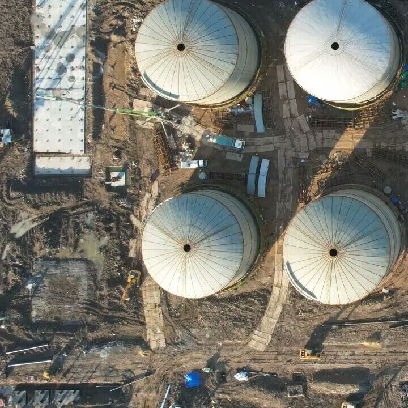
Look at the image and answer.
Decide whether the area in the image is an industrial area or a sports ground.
industrial area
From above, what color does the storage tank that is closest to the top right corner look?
white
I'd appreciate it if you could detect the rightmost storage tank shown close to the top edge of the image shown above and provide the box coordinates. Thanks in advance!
[284,0,404,105]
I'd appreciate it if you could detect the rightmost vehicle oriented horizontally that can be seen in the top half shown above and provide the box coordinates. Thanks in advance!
[208,135,245,152]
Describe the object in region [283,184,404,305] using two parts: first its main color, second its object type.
white storage tank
